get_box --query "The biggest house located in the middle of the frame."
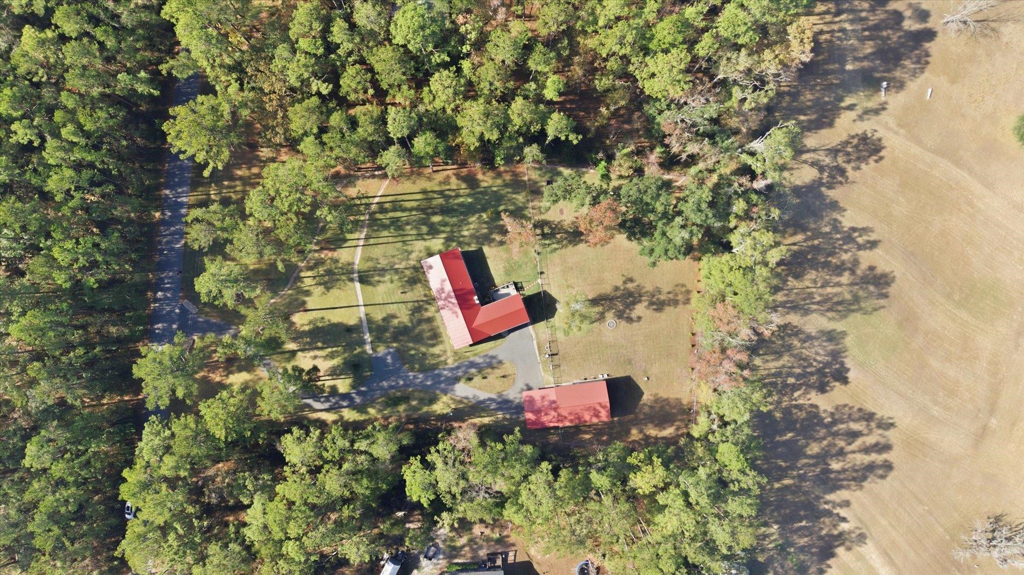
[421,248,530,349]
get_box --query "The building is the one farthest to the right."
[522,380,611,430]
